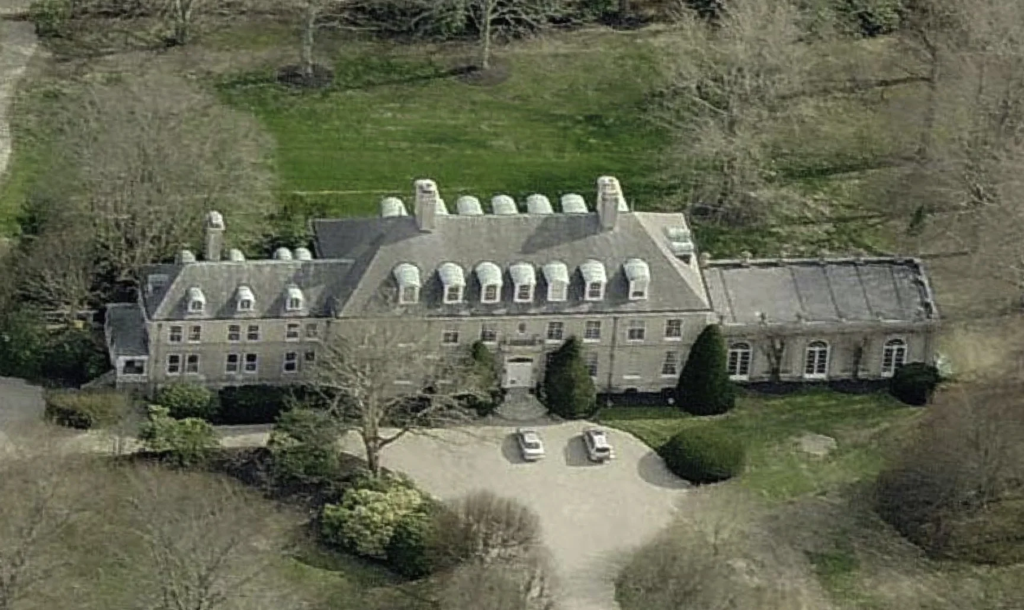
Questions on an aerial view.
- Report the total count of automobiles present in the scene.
2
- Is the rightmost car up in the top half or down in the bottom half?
bottom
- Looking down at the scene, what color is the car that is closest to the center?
white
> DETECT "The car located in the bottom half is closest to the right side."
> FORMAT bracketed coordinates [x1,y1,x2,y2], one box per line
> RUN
[584,430,616,462]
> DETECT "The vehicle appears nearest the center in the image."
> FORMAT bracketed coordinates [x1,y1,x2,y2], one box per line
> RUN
[516,429,544,461]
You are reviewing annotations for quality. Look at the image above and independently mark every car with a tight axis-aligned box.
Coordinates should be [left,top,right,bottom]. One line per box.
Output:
[584,430,616,462]
[516,429,544,461]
